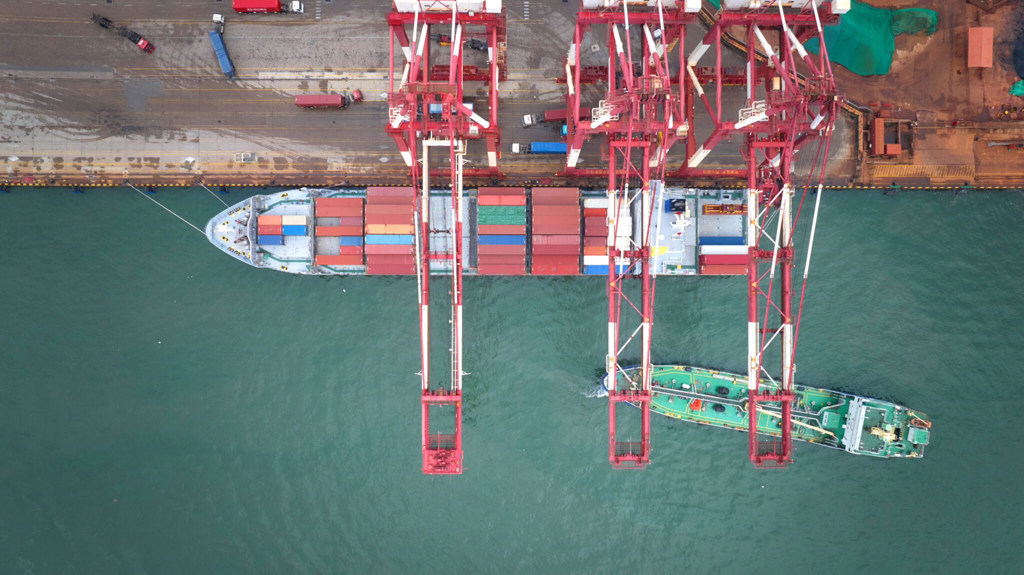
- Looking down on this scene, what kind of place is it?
port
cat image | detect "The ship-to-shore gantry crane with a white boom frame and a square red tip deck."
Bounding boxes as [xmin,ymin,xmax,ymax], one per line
[379,0,514,478]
